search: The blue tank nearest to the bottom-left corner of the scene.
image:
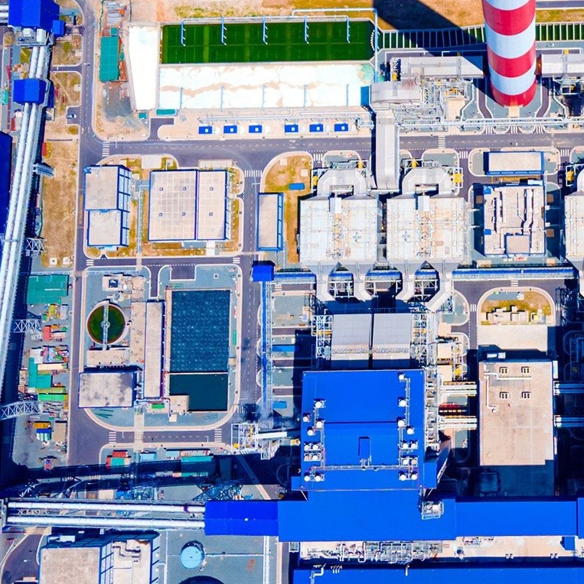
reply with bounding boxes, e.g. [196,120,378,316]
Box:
[179,541,208,571]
